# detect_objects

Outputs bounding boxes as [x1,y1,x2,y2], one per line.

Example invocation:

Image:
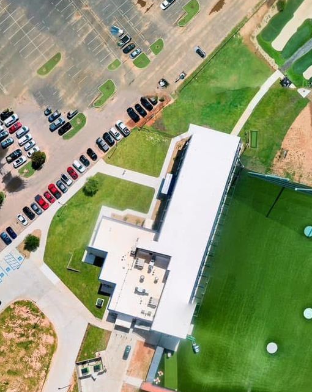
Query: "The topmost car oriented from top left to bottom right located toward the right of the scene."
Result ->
[193,44,206,60]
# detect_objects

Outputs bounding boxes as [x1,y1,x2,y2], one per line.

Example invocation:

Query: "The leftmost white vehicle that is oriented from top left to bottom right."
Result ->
[16,212,29,228]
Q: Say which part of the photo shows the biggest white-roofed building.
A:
center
